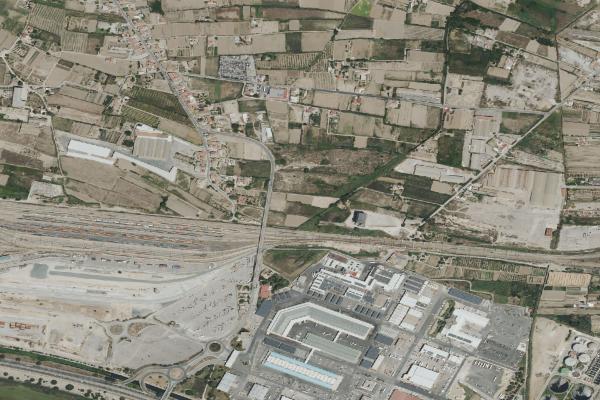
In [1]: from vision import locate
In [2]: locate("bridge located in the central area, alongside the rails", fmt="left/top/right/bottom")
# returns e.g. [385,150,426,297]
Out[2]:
[253,184,274,298]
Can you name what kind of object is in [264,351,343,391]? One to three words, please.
building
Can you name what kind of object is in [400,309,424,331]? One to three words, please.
building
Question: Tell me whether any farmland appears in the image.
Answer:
Yes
